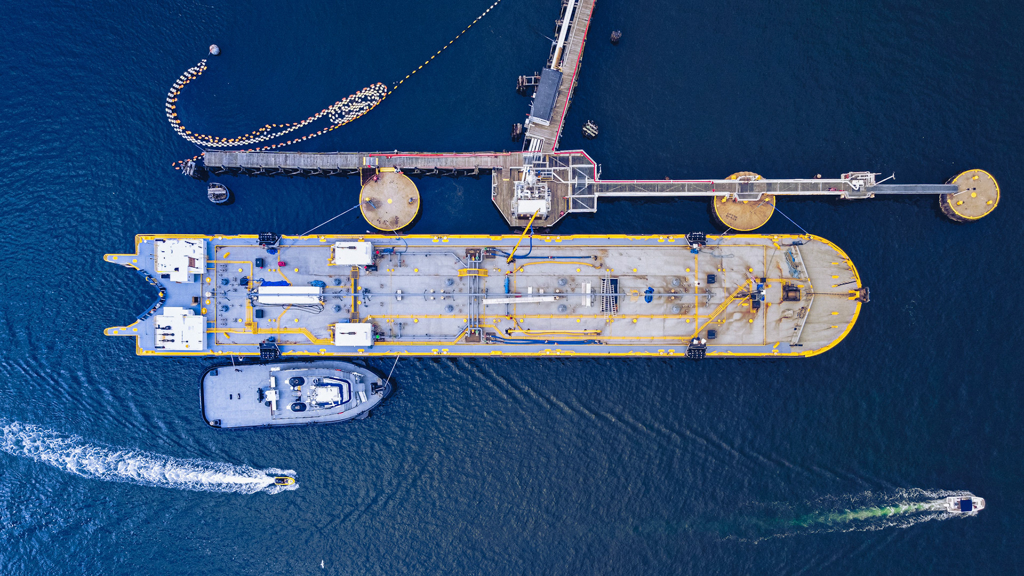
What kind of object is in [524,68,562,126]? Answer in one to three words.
shed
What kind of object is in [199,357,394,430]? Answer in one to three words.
boat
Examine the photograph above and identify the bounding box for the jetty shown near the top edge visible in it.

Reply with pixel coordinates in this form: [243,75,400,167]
[522,0,596,155]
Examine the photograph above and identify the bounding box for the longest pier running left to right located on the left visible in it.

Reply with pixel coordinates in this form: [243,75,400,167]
[203,149,525,178]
